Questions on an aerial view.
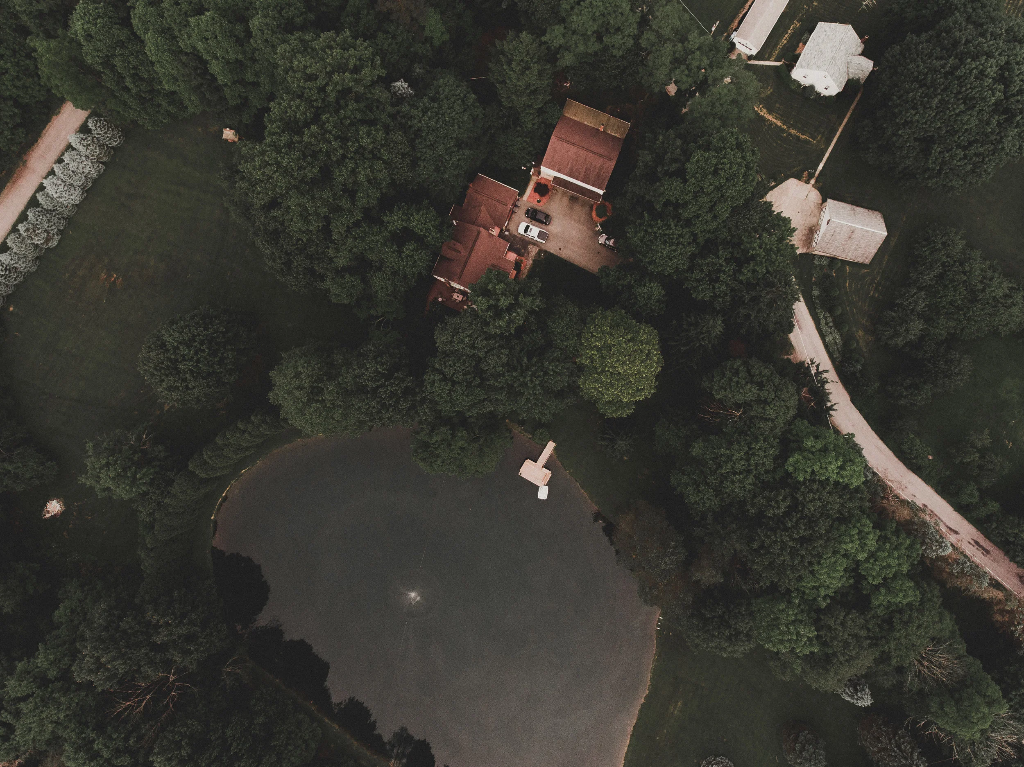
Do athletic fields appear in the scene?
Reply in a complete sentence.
No, there appears to be no athletic field in this shot.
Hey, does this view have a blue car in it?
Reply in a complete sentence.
No, there appears to be no blue car in this shot.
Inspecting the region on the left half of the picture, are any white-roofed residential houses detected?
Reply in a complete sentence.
No, looking on the left half of the picture, there is no white-roofed residential house.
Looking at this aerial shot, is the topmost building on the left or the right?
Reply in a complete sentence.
It is on the right.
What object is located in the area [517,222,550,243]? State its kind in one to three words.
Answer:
truck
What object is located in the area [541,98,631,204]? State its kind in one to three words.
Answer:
house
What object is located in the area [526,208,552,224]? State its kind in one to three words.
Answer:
car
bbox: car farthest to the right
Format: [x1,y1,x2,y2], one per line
[598,231,623,250]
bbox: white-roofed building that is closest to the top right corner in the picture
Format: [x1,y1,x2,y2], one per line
[788,21,876,99]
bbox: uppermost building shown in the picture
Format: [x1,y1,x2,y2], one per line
[732,0,789,56]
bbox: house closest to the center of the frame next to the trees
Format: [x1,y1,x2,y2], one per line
[433,174,519,290]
